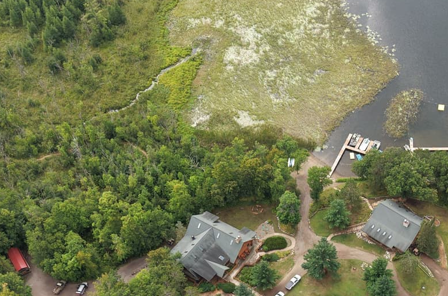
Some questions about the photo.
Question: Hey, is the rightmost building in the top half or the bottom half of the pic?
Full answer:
The rightmost building sits in the bottom half of the picture.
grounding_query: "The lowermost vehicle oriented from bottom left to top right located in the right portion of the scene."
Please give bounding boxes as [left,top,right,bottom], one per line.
[285,274,302,291]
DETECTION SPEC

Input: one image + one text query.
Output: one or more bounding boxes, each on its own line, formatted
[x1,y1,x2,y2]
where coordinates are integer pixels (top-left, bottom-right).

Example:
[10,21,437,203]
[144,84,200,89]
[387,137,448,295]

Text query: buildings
[169,211,264,286]
[362,199,428,256]
[9,248,33,279]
